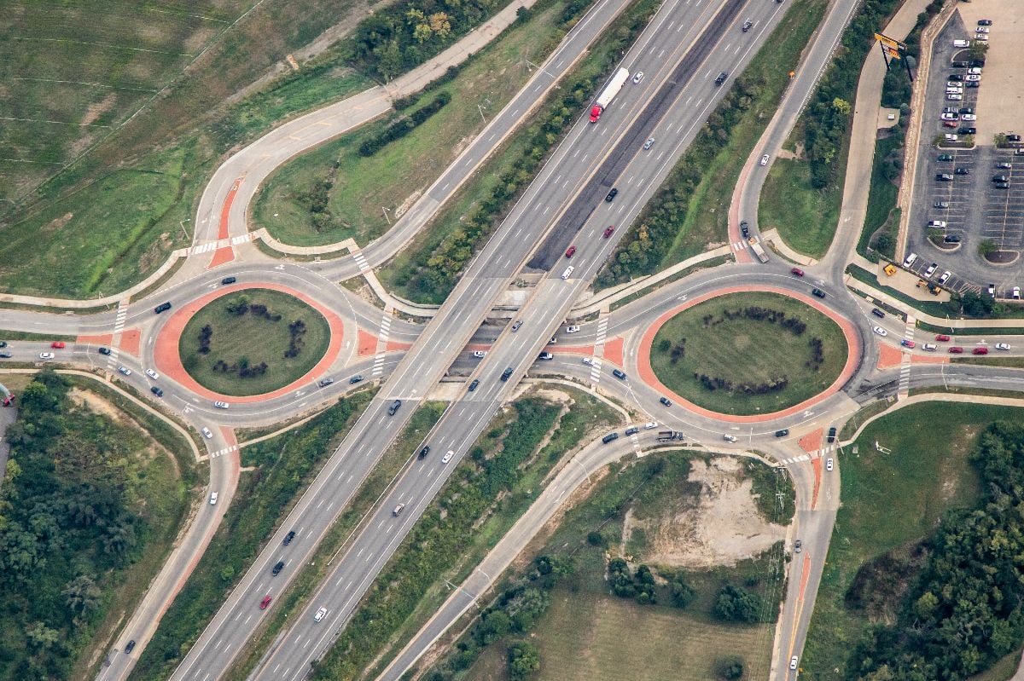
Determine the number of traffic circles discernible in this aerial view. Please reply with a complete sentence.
I count 2 traffic circles.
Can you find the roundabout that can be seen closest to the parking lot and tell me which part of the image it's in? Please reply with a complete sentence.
The roundabout that can be seen closest to the parking lot sits in the right section of the image.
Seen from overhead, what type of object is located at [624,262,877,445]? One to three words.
roundabout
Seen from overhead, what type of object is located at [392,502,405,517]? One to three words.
vehicle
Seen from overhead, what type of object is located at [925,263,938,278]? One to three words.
vehicle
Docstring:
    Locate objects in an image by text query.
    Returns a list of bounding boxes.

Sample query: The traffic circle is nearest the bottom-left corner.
[139,260,357,429]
